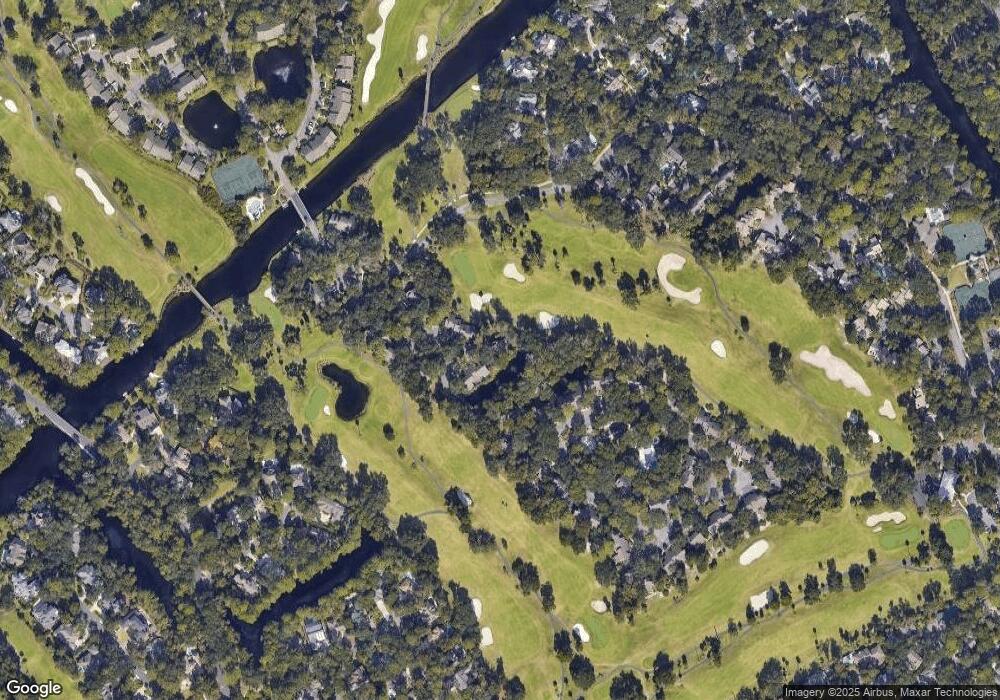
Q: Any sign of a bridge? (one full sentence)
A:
Yes, there is a bridge in the image.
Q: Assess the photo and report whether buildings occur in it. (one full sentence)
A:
Yes, I can see a building in this picture.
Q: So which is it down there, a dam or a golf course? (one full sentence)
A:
Visible in the photo is a golf course.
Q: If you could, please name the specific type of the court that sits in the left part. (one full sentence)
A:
Looking closely, the court that sits in the left part is a tennis court.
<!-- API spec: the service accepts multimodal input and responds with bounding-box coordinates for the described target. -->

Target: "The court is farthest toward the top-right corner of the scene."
[944,221,989,261]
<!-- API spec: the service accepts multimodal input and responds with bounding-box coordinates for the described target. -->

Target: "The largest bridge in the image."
[33,397,93,448]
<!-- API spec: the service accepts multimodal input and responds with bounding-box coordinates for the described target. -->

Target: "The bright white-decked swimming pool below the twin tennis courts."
[246,195,264,220]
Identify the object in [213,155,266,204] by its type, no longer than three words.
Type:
tennis court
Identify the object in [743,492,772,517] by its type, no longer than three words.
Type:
house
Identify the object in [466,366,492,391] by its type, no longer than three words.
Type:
house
